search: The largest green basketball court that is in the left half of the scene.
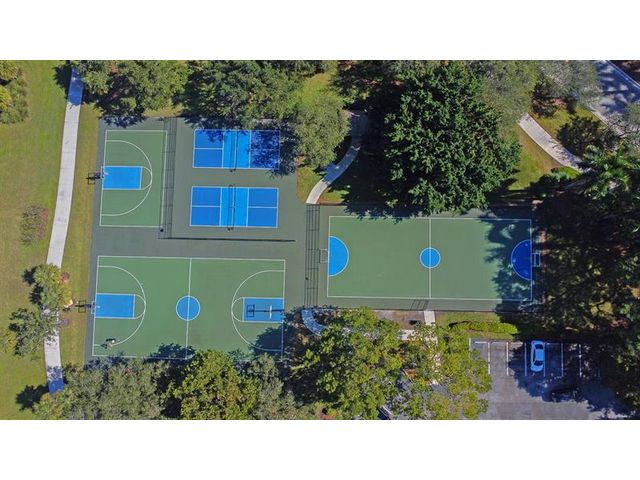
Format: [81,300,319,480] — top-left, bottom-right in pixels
[92,256,284,361]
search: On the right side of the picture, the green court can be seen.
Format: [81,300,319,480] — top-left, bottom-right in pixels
[328,216,532,301]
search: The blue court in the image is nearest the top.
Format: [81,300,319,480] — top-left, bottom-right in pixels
[192,129,280,169]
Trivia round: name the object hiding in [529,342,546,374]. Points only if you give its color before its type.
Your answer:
blue car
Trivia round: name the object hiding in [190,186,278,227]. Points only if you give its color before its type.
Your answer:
blue sports court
